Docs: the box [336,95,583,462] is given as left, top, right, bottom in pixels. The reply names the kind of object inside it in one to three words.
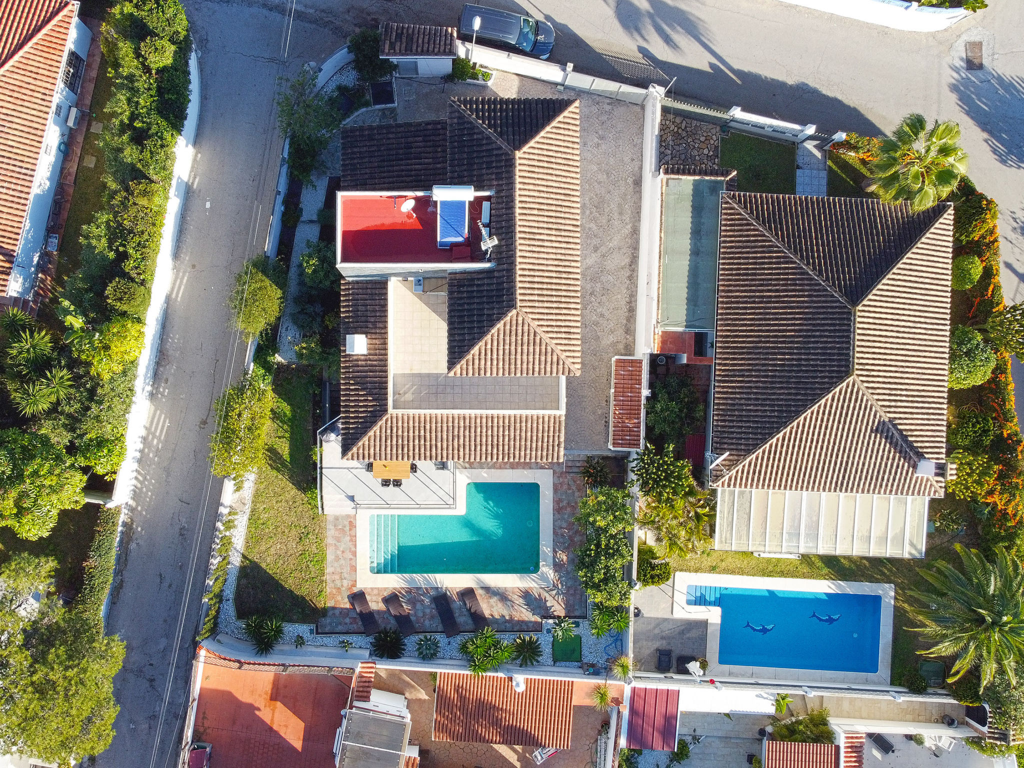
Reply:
house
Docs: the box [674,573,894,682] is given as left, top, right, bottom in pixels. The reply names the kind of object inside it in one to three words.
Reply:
swimming pool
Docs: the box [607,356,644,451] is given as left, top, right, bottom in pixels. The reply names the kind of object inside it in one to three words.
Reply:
shed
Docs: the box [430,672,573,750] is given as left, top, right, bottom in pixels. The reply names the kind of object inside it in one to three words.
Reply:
building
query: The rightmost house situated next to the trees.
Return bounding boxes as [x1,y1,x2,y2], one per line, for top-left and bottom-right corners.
[701,190,958,500]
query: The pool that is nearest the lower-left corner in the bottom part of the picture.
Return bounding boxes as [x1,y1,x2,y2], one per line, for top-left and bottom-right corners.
[356,469,552,588]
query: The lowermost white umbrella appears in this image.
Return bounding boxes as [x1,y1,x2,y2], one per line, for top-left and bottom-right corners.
[685,662,701,678]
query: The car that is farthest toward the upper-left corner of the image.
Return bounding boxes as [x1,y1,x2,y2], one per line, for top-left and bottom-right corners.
[458,0,553,62]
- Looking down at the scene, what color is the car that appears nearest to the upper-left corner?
blue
